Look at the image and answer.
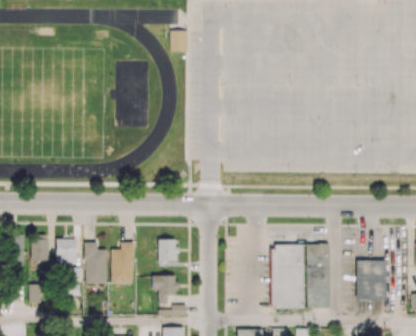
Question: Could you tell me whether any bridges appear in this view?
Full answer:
No, there isn't any bridge down there.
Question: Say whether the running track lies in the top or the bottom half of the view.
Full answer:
You can find the running track in the top half.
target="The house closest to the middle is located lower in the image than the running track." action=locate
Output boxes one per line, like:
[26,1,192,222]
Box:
[158,238,179,266]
